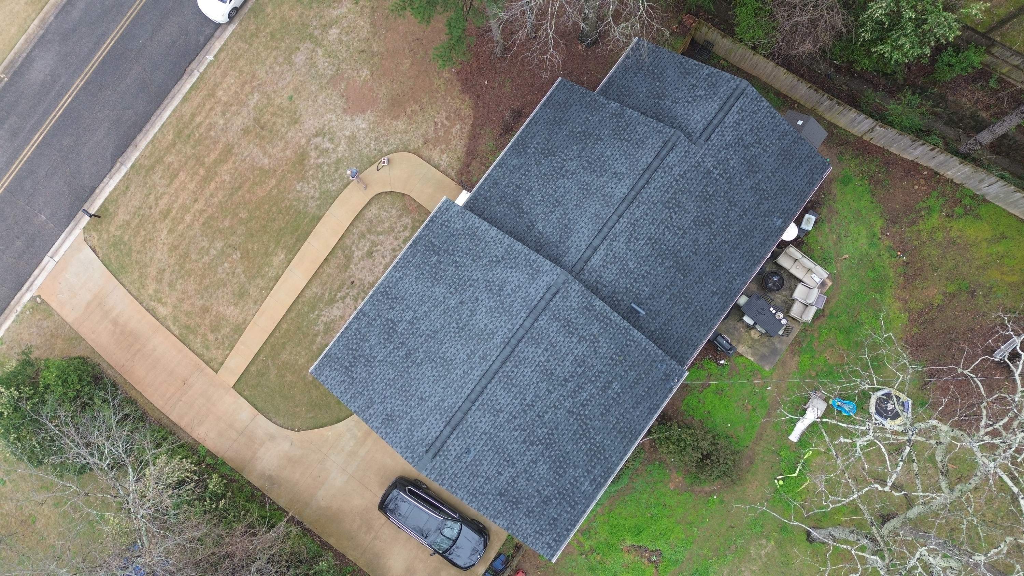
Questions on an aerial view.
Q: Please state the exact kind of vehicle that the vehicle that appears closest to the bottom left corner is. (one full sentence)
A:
Specifically, the vehicle that appears closest to the bottom left corner is an automobile.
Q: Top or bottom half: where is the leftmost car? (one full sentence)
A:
You can find the leftmost car in the top half.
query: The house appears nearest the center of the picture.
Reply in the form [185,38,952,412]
[307,35,834,564]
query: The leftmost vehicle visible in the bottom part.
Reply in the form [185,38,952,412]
[377,475,490,569]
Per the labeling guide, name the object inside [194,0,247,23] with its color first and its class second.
white car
